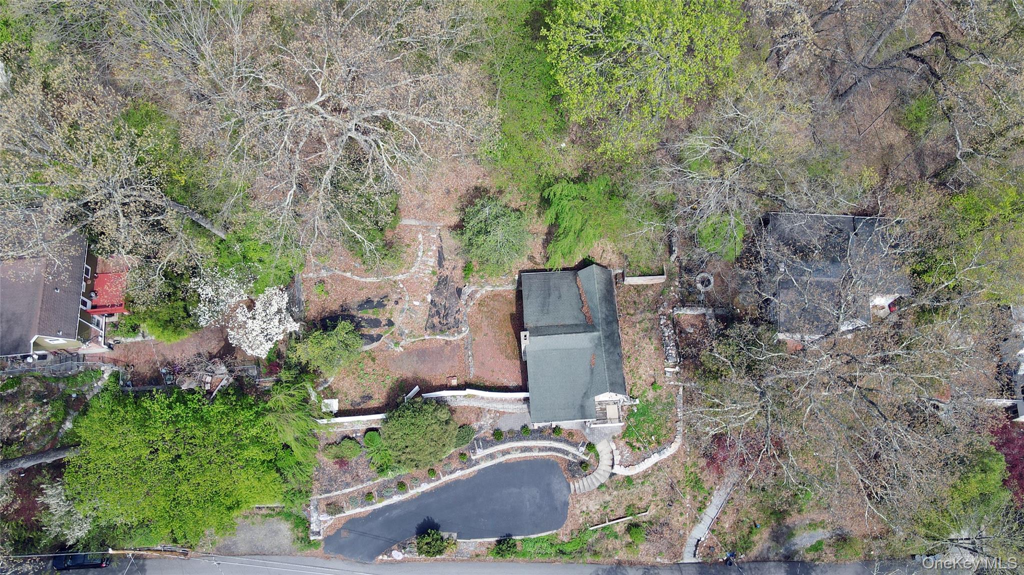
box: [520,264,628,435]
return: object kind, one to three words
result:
building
